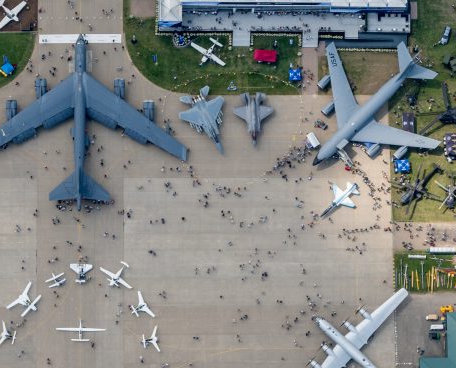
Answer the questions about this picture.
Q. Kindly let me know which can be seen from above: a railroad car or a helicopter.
helicopter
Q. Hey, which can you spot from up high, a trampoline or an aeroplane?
aeroplane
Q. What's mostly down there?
paved ground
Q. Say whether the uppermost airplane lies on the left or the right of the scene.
left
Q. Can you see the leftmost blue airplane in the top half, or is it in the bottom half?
top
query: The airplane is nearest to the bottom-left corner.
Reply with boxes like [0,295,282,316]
[0,319,18,344]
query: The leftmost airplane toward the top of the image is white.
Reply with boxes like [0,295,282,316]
[0,0,28,28]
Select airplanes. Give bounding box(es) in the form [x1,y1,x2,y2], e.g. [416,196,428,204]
[312,41,443,166]
[70,260,92,284]
[322,176,364,217]
[0,319,18,344]
[98,259,133,288]
[190,37,224,66]
[233,91,274,146]
[55,319,106,344]
[0,34,186,208]
[179,85,225,155]
[301,288,409,368]
[6,281,41,317]
[0,0,28,28]
[130,289,155,318]
[141,324,163,352]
